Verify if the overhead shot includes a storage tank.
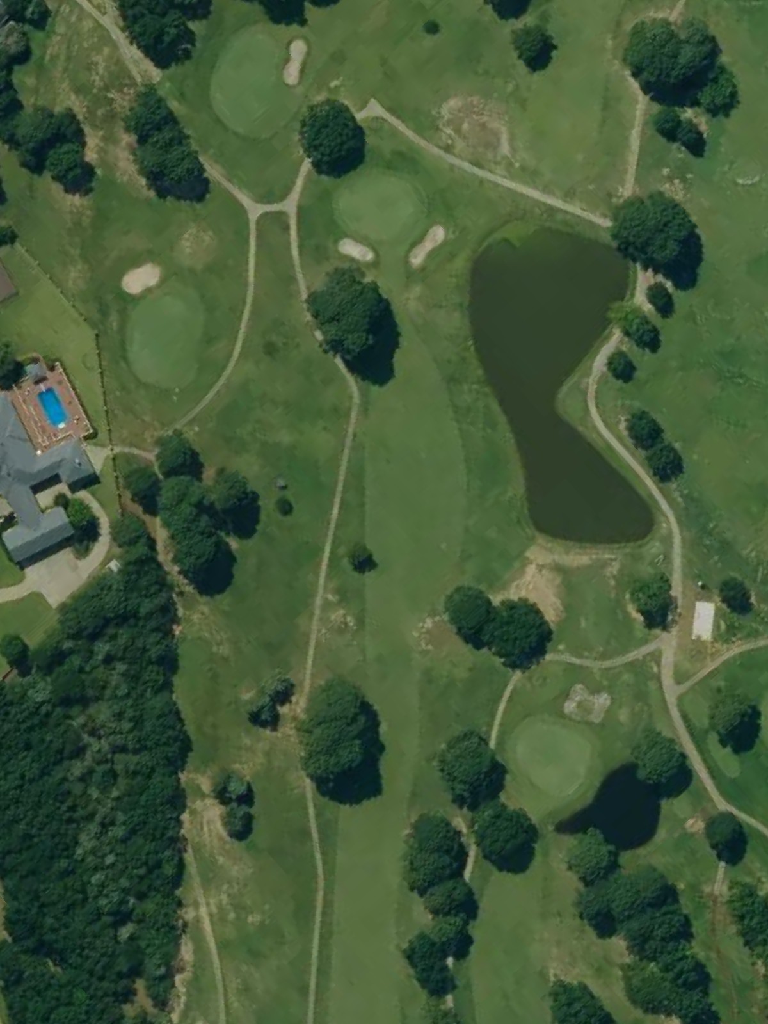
No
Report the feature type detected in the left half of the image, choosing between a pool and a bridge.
pool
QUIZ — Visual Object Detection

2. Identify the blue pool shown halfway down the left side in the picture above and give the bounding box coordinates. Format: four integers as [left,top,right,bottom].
[34,385,69,429]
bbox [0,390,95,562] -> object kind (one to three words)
house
